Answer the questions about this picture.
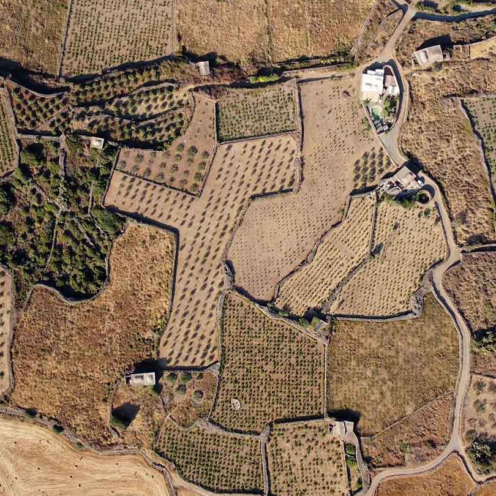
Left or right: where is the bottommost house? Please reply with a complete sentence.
The bottommost house is on the right side of the image.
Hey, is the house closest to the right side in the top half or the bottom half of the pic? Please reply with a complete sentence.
The house closest to the right side is in the top half of the image.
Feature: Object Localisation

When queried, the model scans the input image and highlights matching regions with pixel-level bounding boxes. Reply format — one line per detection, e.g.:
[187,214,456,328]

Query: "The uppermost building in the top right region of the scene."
[412,45,449,67]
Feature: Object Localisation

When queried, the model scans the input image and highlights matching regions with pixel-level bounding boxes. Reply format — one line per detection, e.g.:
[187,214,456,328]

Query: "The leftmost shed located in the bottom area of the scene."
[125,371,156,386]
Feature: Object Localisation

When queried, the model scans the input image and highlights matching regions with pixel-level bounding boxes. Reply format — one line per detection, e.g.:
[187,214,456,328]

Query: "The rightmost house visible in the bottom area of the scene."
[332,419,357,444]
